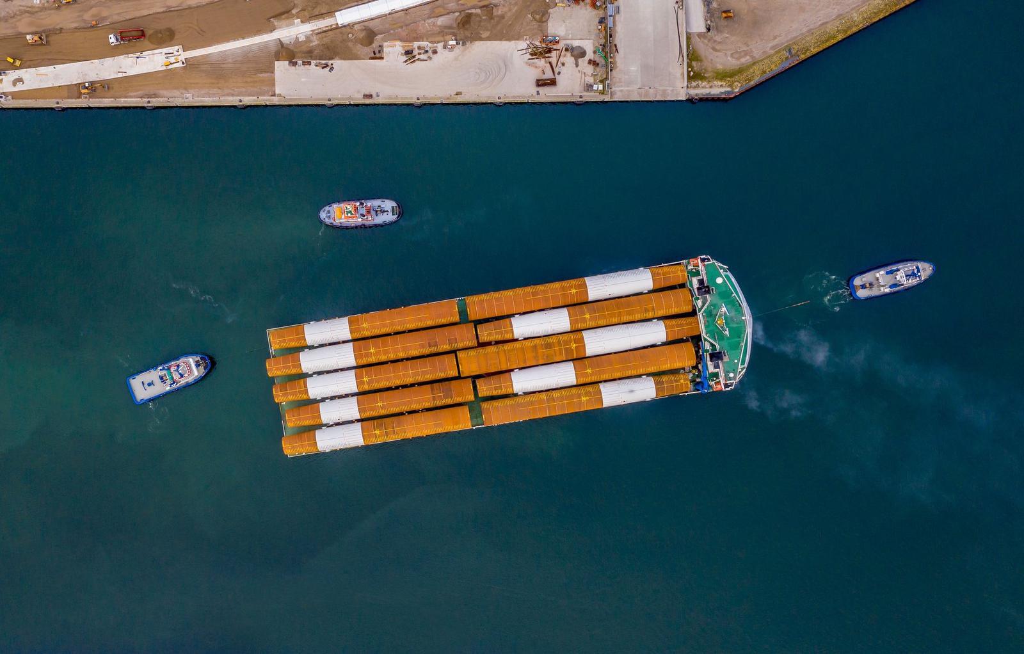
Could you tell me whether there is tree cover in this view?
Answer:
No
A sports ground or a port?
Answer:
port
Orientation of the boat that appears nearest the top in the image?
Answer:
horizontally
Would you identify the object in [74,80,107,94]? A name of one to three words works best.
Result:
work vehicle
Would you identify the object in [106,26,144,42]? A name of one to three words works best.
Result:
vehicle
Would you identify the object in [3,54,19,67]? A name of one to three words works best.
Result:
vehicle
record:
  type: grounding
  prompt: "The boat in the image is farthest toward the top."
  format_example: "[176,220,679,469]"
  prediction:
[319,199,402,230]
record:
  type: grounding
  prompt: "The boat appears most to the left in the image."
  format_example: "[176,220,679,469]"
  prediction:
[126,354,212,405]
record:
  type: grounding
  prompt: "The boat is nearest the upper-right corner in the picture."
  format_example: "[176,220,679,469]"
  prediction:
[849,260,936,300]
